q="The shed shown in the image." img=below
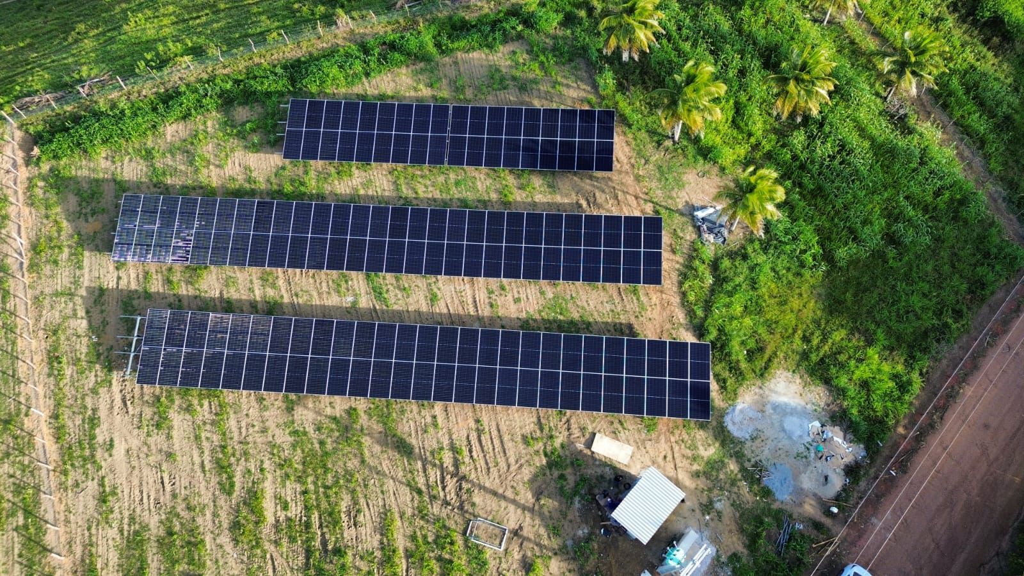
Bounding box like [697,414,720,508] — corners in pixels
[611,467,685,544]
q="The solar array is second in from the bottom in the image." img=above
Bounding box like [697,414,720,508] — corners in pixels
[110,193,663,286]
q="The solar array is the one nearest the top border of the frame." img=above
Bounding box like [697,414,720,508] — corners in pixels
[277,97,615,172]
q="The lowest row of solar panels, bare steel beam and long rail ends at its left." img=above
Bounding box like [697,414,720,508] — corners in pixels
[112,308,712,421]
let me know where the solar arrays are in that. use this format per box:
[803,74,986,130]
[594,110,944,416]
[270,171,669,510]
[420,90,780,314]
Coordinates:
[110,193,663,286]
[112,308,712,421]
[277,97,615,172]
